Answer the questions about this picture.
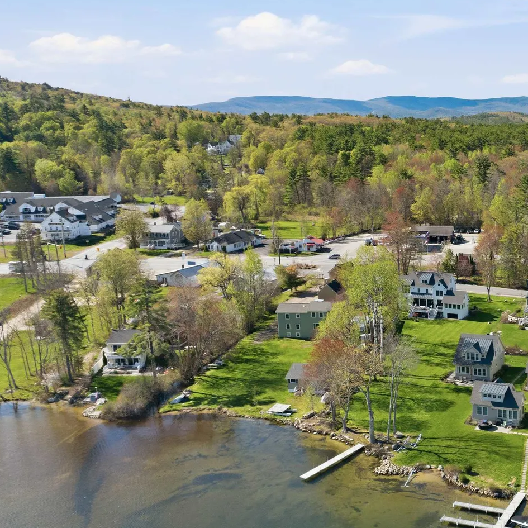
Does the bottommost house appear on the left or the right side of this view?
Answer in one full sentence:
The bottommost house appears in the right half of the scene.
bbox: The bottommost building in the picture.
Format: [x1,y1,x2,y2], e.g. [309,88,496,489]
[470,380,528,425]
